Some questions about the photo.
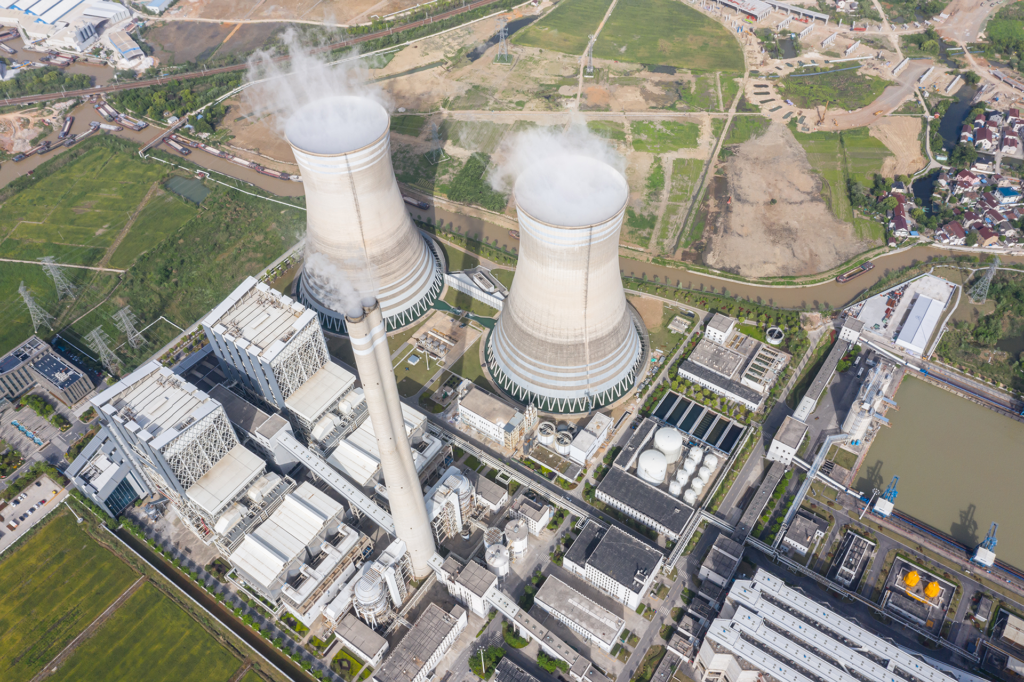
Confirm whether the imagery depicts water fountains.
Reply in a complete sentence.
Yes, this view includes a water fountain.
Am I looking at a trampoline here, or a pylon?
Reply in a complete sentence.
Of the two, only a pylon appears.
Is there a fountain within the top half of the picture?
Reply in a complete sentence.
No, no fountain is visible within the top half of the picture.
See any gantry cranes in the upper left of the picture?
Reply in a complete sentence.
No, no gantry crane can be made out in the upper left of the picture.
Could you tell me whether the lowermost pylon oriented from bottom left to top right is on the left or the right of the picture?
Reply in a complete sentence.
It is on the right.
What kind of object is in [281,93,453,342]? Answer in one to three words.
cooling tower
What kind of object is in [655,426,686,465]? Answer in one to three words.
storage tank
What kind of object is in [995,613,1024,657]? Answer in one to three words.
shed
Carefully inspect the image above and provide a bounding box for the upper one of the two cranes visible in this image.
[870,466,908,522]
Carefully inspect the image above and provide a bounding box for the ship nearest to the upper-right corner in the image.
[836,258,878,281]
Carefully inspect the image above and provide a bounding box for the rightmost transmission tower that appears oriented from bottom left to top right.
[963,260,1006,306]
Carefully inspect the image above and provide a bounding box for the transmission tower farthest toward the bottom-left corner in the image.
[85,331,126,379]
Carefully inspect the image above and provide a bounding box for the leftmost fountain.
[10,420,44,446]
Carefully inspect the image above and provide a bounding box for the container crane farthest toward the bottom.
[968,514,1010,572]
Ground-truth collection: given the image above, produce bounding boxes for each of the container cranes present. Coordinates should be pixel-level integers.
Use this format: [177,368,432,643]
[968,514,1010,572]
[870,466,908,522]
